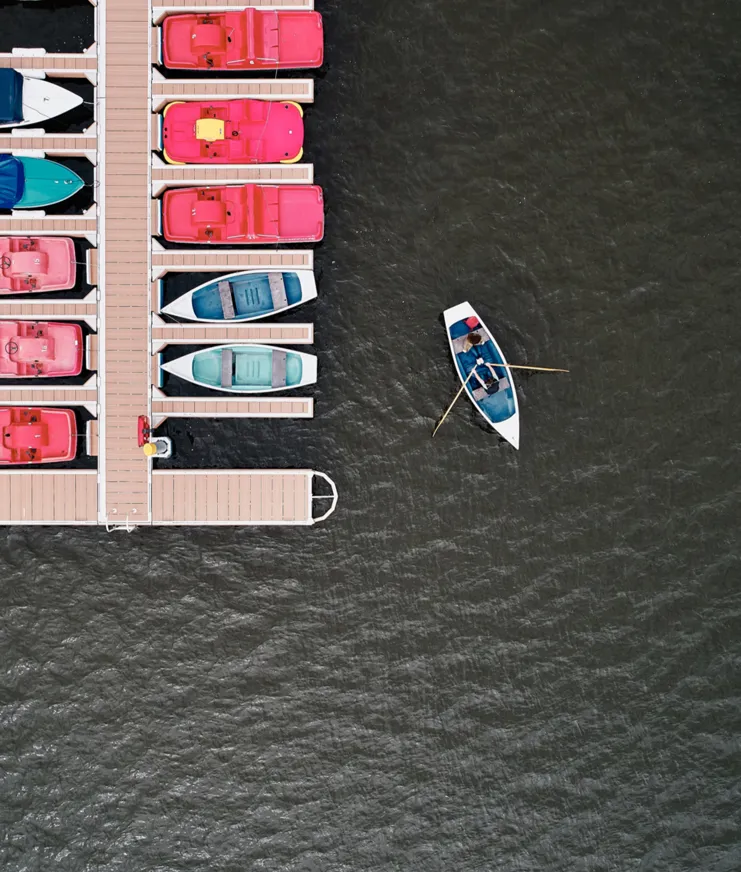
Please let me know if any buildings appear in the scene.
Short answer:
No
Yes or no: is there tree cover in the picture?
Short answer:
No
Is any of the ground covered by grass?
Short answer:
No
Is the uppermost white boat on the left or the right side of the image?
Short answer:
left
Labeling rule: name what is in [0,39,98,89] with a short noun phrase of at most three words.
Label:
pier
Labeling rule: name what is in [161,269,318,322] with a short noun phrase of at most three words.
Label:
boat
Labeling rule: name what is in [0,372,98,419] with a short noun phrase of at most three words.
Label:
pier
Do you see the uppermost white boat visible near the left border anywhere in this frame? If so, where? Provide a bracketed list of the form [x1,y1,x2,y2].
[0,72,84,132]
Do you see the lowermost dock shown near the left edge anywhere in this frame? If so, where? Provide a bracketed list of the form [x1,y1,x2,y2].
[0,469,98,525]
